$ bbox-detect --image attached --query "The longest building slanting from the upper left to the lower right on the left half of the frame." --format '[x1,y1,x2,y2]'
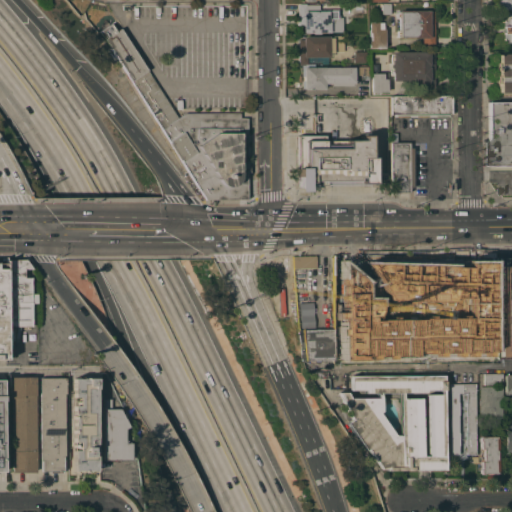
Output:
[104,24,249,204]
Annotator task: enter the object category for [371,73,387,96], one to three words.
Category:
house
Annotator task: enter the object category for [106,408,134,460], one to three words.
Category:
building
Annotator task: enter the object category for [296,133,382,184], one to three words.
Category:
building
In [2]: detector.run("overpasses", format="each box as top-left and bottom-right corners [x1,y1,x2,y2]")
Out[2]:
[34,196,217,262]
